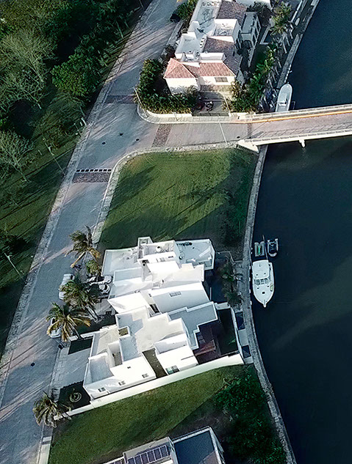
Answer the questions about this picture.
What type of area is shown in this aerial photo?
residential area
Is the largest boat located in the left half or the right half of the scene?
right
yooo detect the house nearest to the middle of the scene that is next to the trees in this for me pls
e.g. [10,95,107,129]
[103,237,222,316]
